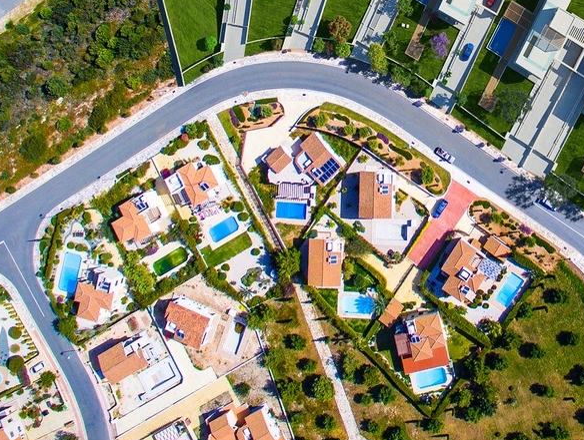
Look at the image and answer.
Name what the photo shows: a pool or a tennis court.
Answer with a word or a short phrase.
pool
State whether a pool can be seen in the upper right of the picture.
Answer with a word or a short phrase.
Yes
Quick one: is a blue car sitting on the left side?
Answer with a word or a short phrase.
No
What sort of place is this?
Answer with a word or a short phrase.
residential area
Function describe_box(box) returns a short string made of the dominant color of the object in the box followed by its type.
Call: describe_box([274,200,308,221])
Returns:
blue swimming pool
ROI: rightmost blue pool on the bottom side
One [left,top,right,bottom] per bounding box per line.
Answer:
[492,270,527,311]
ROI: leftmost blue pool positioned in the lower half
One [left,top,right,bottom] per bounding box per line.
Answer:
[56,250,83,295]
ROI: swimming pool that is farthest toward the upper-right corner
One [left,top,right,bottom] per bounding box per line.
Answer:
[485,16,519,56]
